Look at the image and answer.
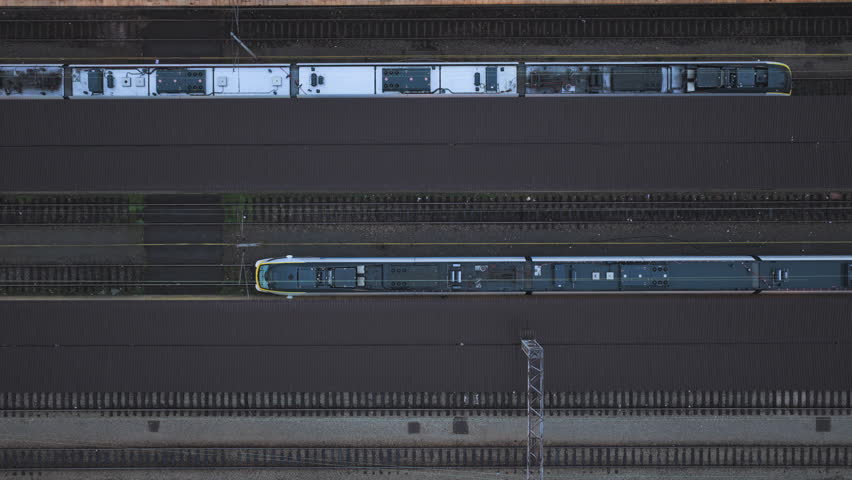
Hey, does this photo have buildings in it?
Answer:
No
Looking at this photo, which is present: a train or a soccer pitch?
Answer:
train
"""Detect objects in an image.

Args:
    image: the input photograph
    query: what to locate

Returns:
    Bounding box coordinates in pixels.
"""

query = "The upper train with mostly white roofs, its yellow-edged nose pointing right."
[0,60,792,99]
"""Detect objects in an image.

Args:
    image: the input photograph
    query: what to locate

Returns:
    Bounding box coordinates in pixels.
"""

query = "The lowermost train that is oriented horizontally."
[255,253,852,298]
